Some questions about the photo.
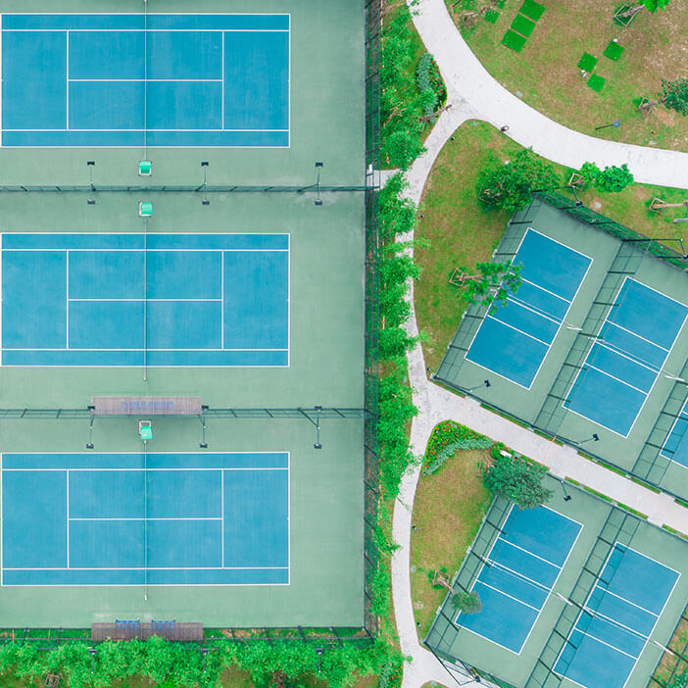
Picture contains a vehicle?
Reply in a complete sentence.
No, I can't see a single vehicle in this photo.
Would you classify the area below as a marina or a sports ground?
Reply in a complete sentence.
This image shows a sports ground.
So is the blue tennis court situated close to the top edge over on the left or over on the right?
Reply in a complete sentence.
It is on the left.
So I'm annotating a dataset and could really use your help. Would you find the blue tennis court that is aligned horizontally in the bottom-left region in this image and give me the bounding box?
[0,453,291,587]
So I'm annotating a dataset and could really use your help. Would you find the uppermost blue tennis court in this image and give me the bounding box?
[0,11,291,148]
